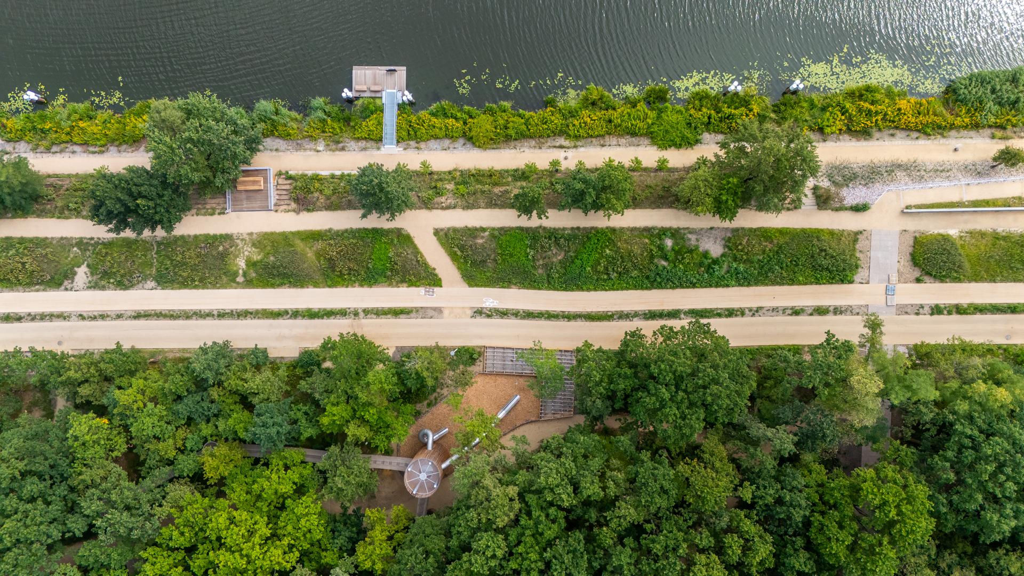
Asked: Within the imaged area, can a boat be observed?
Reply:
No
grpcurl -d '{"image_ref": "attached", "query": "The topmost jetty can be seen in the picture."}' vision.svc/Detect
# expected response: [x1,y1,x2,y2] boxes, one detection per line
[353,66,406,103]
